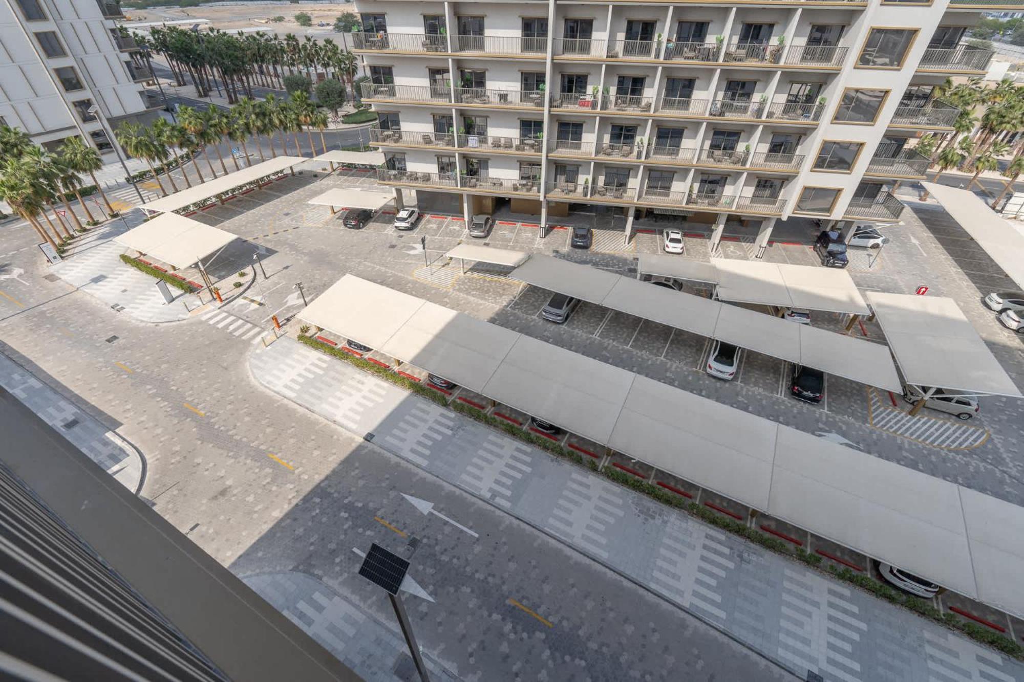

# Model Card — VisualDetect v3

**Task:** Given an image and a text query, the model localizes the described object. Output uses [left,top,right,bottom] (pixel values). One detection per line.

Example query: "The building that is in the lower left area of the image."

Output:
[0,384,380,682]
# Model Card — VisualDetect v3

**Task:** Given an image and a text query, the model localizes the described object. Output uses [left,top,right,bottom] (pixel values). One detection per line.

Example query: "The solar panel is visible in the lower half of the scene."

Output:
[359,546,420,605]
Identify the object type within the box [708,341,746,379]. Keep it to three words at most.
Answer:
car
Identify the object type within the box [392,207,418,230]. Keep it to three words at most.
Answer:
car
